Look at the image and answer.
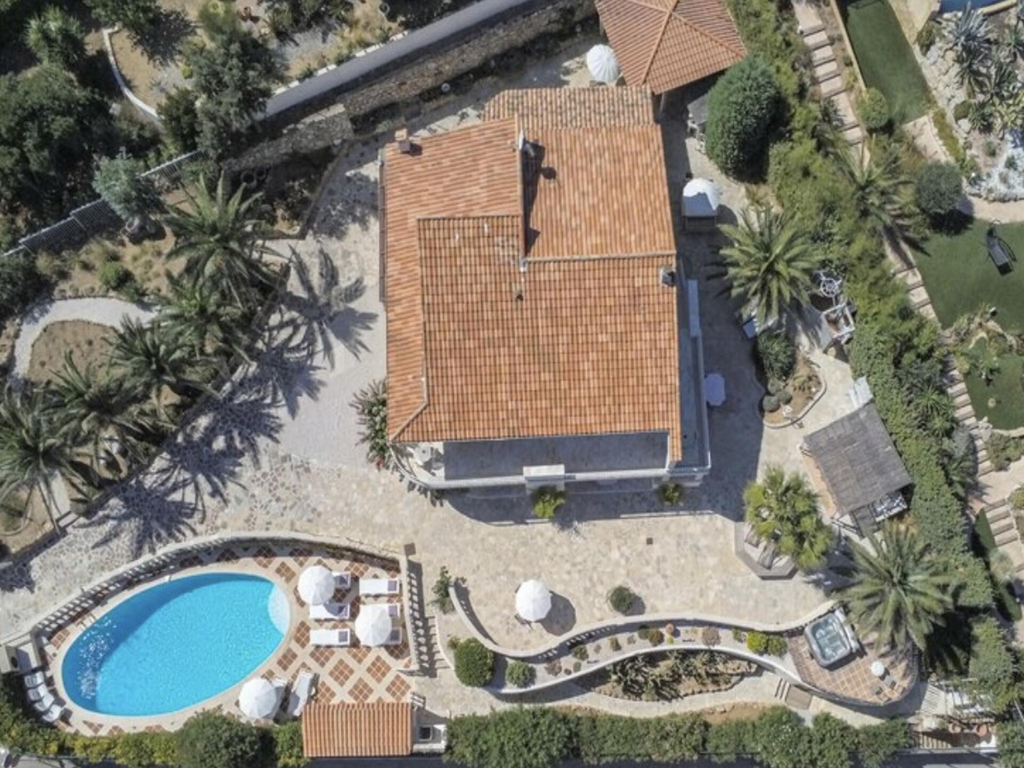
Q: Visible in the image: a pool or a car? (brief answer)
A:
pool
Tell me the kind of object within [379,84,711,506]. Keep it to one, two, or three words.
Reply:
house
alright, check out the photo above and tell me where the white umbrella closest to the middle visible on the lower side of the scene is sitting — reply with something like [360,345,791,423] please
[514,581,553,621]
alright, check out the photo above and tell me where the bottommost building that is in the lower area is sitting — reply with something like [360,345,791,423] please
[303,702,416,758]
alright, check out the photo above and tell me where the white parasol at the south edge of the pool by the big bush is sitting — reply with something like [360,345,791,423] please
[240,678,280,719]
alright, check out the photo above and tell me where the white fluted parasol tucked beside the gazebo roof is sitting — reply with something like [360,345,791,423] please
[585,51,620,88]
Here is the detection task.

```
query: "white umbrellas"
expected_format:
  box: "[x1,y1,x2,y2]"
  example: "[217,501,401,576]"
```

[298,567,336,604]
[355,606,394,645]
[514,581,553,621]
[585,51,620,88]
[240,678,280,719]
